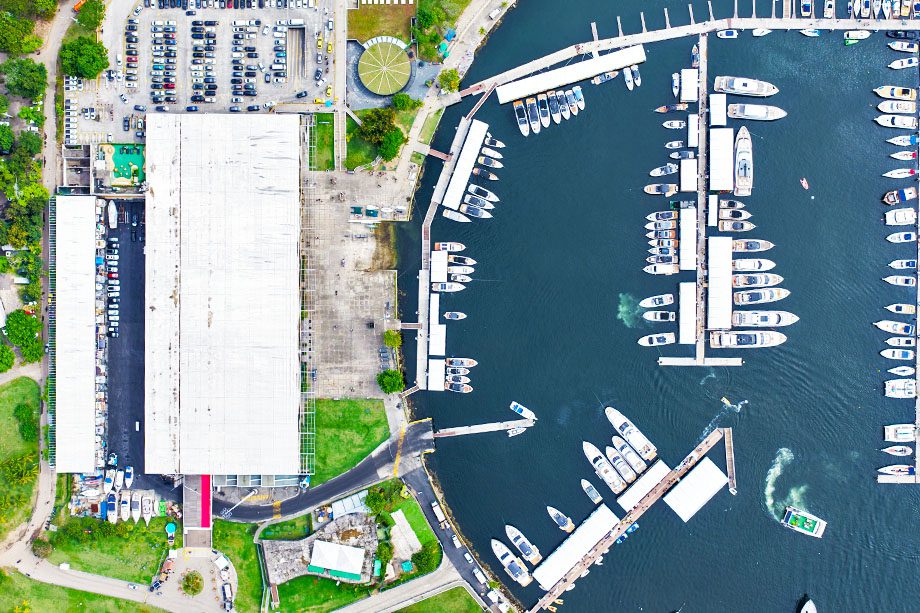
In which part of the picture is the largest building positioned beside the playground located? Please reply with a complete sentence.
Look in the left portion of the view to spot the largest building positioned beside the playground.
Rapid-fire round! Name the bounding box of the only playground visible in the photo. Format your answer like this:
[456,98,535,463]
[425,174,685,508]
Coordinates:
[92,142,145,198]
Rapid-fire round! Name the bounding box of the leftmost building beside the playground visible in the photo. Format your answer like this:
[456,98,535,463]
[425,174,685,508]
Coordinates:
[49,196,106,474]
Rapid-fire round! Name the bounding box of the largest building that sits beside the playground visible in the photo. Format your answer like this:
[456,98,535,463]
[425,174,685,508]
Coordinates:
[145,112,305,475]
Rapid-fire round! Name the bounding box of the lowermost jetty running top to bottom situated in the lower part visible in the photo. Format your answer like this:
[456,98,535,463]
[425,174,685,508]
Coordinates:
[723,428,736,488]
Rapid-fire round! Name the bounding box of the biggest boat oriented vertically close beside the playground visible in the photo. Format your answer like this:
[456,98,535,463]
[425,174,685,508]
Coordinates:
[106,200,119,230]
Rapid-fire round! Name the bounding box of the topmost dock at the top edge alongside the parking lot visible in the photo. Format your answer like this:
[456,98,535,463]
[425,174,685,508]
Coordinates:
[470,18,920,93]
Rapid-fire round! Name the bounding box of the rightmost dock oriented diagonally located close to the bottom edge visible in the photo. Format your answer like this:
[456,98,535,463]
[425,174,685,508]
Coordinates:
[531,428,723,613]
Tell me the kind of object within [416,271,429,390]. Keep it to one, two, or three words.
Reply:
pier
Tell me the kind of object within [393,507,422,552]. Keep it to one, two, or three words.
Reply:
house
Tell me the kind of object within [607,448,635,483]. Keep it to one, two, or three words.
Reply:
boat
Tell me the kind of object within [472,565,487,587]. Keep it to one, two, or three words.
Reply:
vehicle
